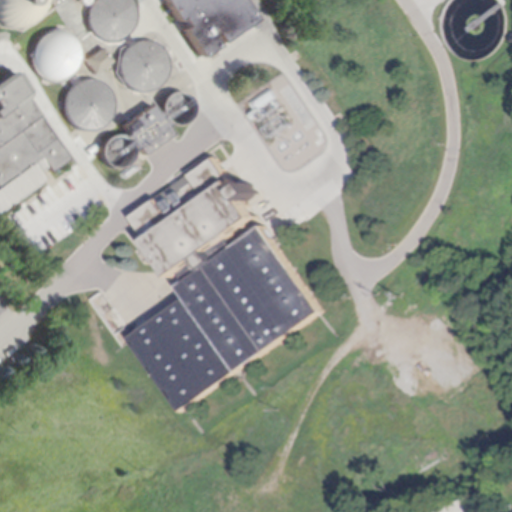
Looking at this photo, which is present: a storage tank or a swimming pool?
storage tank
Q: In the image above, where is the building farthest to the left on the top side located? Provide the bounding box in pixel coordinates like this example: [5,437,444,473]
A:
[0,74,75,214]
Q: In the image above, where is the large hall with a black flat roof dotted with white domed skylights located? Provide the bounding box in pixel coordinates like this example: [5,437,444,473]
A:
[122,230,314,408]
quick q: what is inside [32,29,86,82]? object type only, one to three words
storage tank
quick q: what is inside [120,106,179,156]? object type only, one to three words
building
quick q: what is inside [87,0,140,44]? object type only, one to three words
storage tank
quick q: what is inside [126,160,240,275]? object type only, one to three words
building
